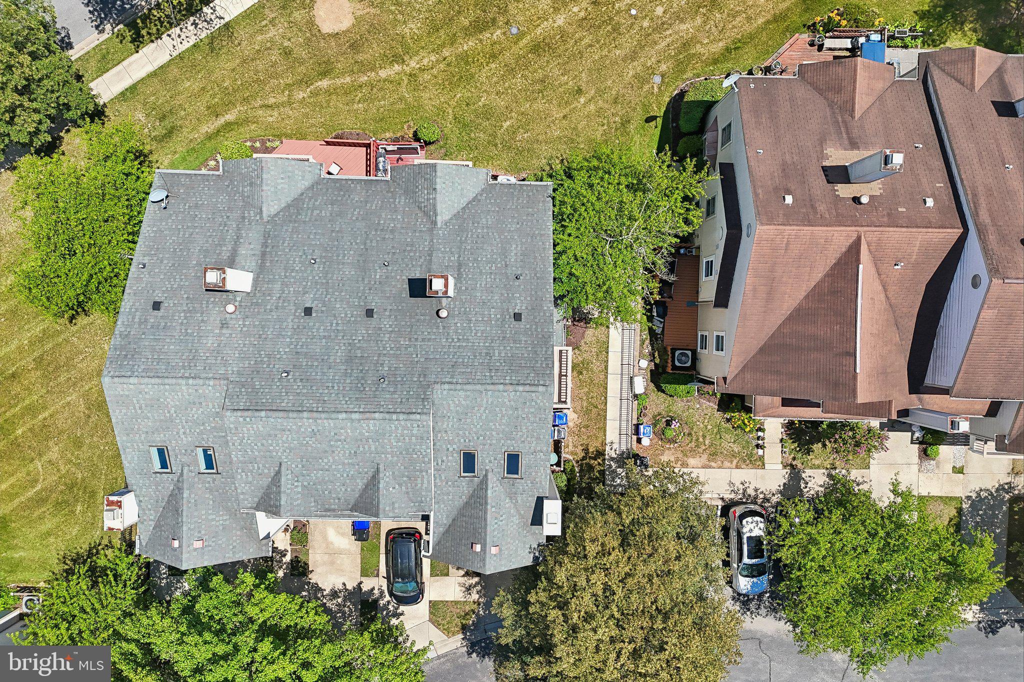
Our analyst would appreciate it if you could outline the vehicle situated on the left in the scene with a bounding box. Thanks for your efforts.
[387,527,426,605]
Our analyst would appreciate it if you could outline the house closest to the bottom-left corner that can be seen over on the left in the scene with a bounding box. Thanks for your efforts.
[102,152,572,574]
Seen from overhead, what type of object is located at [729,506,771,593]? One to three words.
car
